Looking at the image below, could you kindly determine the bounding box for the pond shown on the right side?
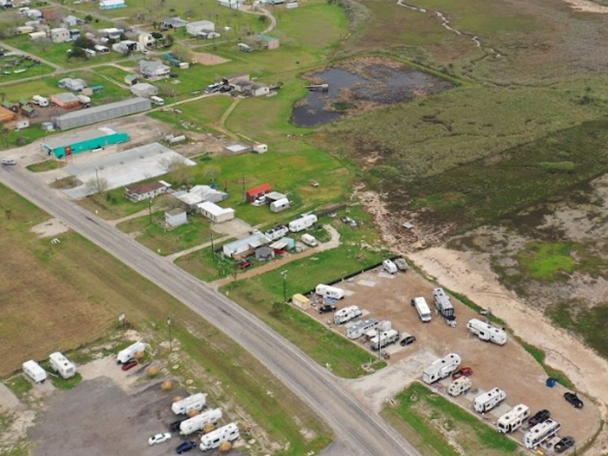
[291,57,450,127]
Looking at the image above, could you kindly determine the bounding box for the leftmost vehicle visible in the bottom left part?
[23,357,46,382]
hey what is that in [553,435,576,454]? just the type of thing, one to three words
vehicle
